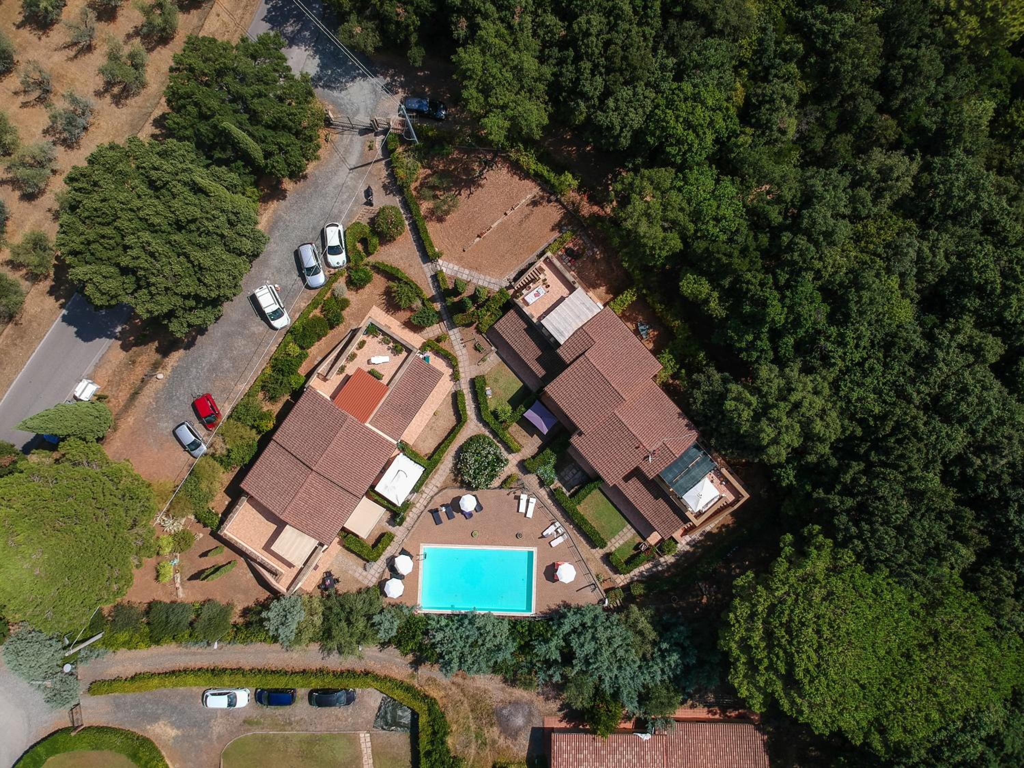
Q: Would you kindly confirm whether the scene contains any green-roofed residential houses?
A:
No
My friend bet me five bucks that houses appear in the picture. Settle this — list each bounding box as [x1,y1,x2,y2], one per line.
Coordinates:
[550,706,772,768]
[493,250,752,540]
[219,316,444,594]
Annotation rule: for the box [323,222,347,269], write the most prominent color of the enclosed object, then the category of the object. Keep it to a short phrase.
white car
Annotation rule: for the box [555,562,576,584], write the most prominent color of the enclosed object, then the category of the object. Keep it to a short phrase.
white umbrella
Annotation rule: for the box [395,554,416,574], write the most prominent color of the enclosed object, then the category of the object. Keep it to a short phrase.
white umbrella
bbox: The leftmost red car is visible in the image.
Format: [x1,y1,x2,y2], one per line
[192,392,221,433]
